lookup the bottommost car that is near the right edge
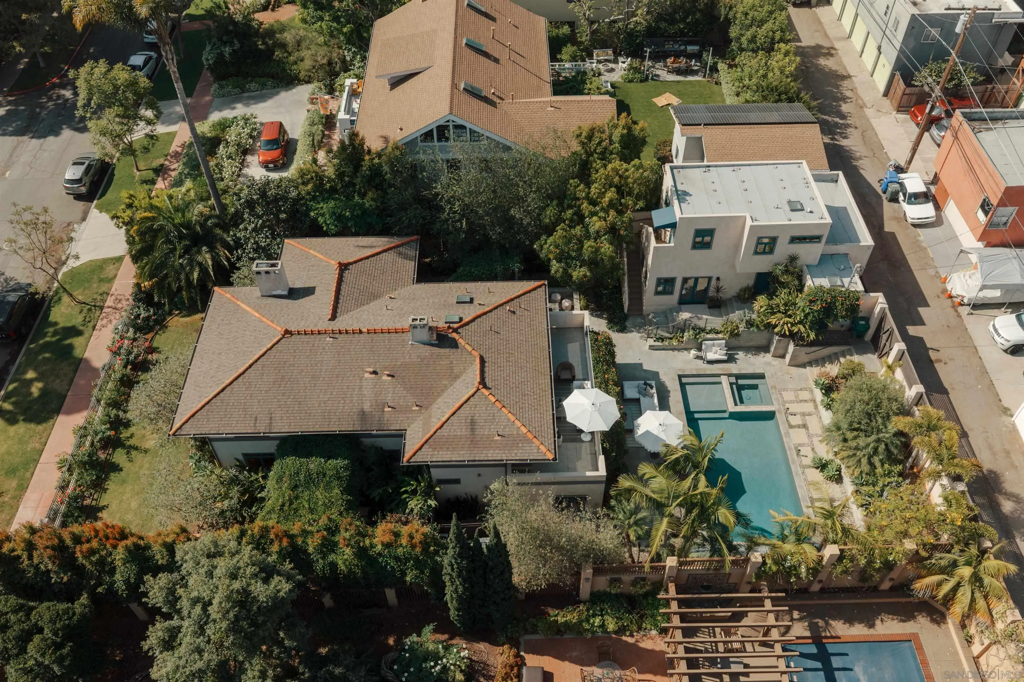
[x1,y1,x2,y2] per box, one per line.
[993,304,1024,351]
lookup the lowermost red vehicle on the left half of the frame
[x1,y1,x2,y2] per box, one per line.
[255,115,294,167]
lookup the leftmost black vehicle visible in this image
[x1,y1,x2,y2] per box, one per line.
[0,272,47,338]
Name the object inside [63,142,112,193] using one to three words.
car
